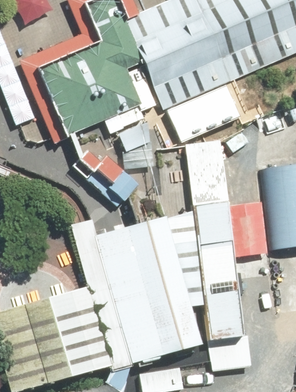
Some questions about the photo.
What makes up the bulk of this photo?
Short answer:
buildings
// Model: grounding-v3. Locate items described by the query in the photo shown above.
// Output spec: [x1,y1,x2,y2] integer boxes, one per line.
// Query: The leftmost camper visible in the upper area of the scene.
[228,136,250,152]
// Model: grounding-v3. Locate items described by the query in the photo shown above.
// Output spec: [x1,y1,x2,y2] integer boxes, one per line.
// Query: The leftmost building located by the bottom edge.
[0,298,71,392]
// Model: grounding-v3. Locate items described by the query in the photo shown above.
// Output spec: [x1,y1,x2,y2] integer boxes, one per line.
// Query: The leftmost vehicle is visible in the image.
[184,373,216,386]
